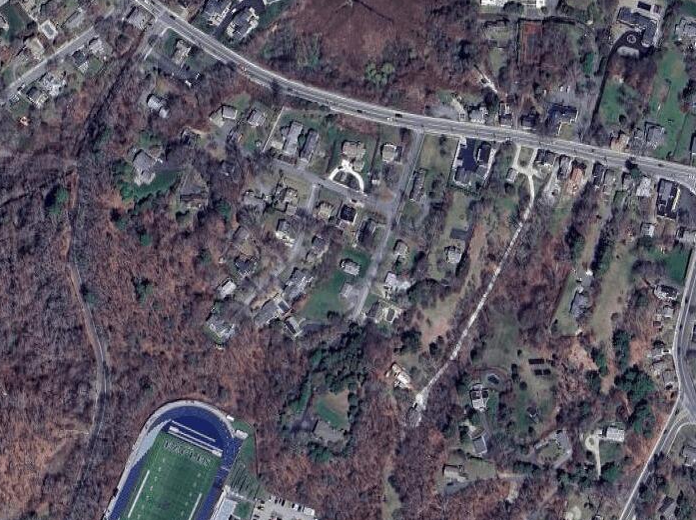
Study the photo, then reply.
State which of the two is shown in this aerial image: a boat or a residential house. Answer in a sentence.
I can see a residential house in this picture.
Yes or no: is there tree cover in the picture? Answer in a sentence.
Yes, there is tree cover in the image.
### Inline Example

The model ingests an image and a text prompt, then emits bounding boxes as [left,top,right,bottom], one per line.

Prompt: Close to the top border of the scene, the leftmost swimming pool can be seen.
[39,20,58,38]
